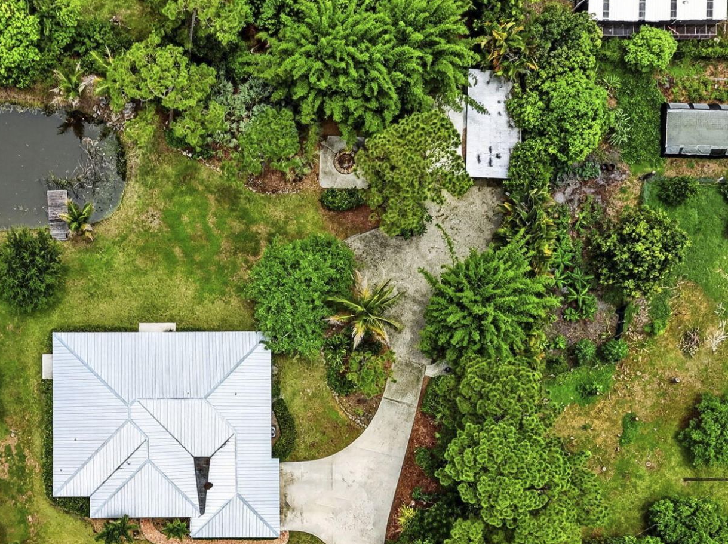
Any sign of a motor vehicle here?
No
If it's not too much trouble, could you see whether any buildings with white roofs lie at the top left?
No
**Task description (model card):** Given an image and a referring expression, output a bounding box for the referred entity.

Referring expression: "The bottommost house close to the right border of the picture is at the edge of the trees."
[644,102,728,163]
